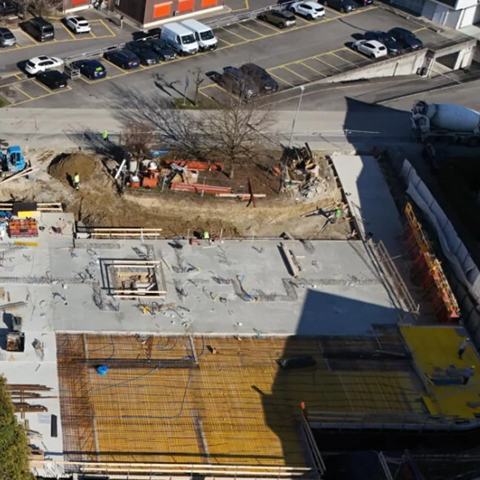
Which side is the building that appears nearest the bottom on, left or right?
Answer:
right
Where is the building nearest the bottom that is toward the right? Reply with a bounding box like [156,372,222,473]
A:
[418,38,480,78]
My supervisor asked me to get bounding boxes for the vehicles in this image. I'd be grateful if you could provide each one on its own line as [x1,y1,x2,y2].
[294,1,324,18]
[355,39,389,57]
[149,36,180,58]
[391,26,424,47]
[161,18,198,50]
[0,29,18,47]
[23,17,54,40]
[242,63,277,89]
[372,30,405,52]
[0,0,17,16]
[66,15,91,33]
[75,59,106,80]
[184,15,220,46]
[37,68,67,90]
[263,8,293,27]
[23,54,63,75]
[0,143,32,173]
[106,49,138,69]
[129,40,160,63]
[398,102,480,146]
